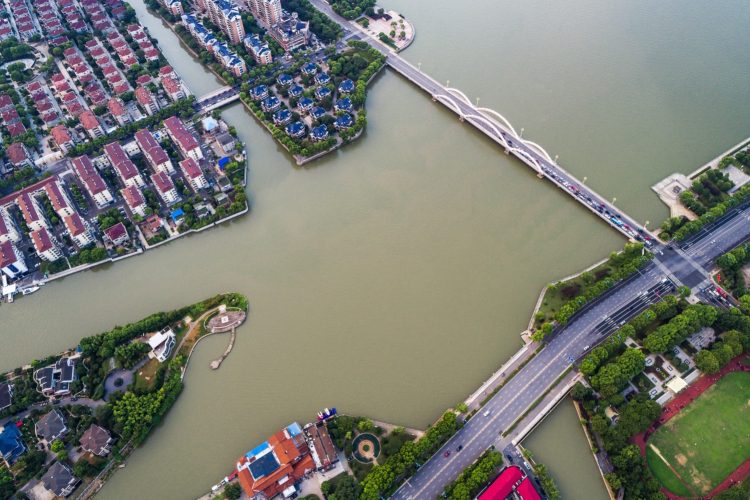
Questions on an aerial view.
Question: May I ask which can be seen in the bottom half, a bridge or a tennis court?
bridge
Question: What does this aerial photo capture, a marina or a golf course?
marina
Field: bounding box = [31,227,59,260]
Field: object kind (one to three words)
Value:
building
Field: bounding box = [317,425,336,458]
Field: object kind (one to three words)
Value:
house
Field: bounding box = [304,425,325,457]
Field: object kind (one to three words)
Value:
house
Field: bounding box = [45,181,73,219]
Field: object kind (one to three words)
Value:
building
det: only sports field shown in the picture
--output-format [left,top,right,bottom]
[635,351,750,500]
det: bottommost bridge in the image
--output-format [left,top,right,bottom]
[464,343,585,449]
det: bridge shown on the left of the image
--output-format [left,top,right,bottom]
[196,85,241,113]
